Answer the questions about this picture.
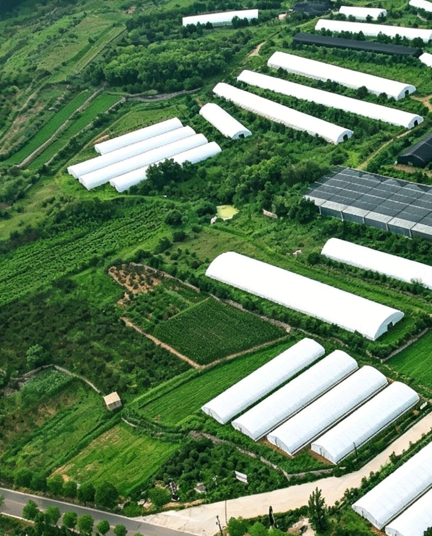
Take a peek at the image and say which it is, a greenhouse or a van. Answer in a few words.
greenhouse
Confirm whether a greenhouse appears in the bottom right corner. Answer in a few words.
Yes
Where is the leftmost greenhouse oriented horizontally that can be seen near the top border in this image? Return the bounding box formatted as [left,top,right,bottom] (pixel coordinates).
[180,9,258,27]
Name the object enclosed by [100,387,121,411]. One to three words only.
shed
